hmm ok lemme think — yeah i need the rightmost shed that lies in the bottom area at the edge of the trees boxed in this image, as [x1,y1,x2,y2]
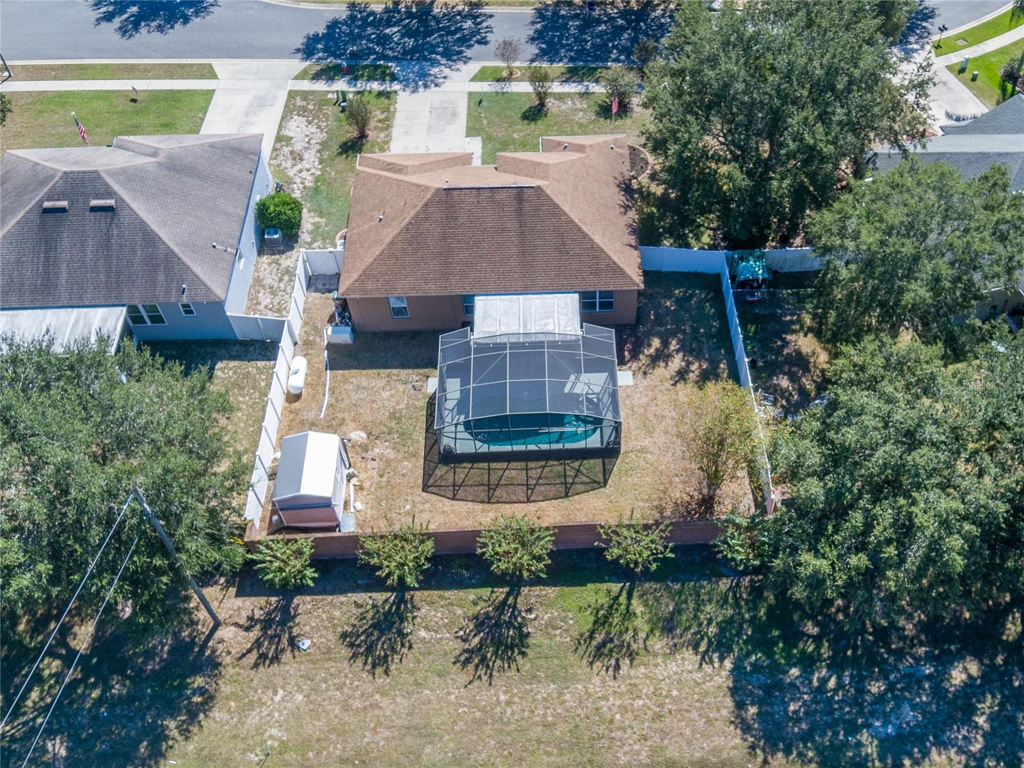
[274,432,352,526]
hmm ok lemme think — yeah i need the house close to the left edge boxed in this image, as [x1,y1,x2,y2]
[0,129,273,342]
